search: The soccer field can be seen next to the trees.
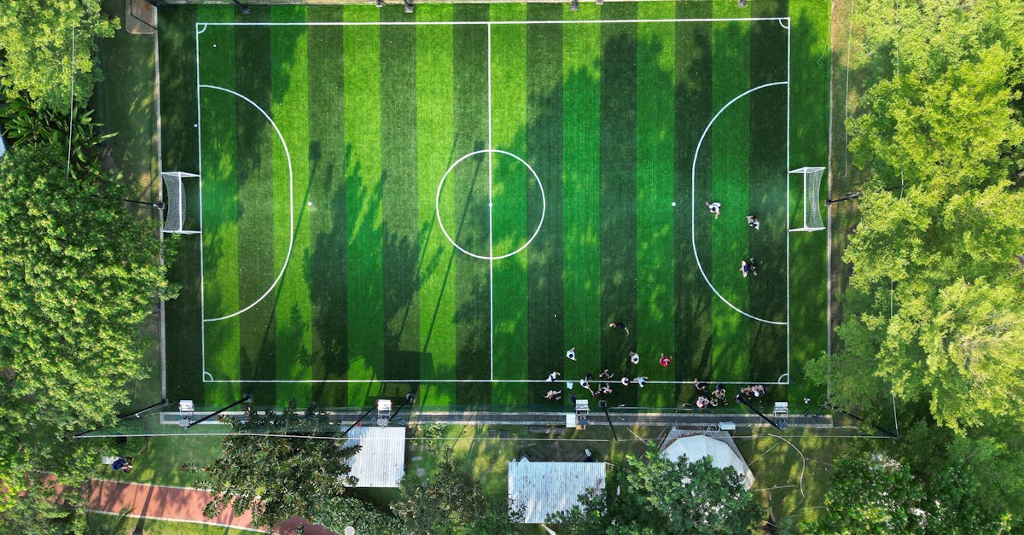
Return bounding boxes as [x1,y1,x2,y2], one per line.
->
[162,0,829,413]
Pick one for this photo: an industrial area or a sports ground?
sports ground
